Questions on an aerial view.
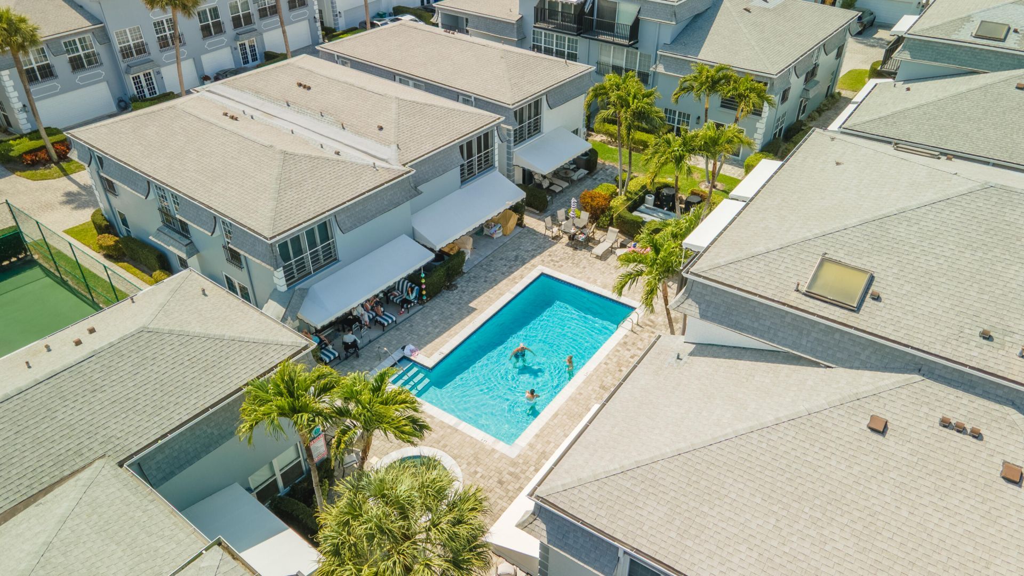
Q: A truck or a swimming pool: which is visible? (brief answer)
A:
swimming pool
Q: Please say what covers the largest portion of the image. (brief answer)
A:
buildings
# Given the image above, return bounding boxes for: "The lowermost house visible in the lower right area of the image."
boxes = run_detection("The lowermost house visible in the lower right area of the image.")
[493,332,1024,576]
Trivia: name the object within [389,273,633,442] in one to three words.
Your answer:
swimming pool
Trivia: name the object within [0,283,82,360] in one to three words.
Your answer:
tennis court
